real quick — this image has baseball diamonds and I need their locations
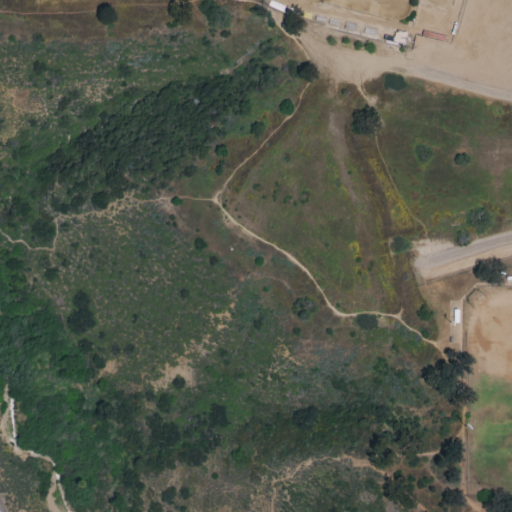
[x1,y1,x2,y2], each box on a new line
[464,285,512,500]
